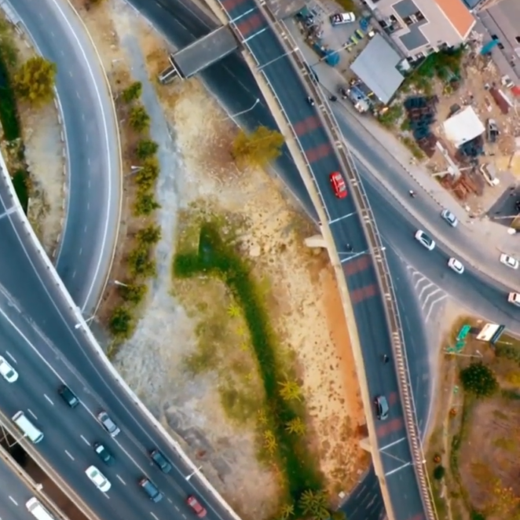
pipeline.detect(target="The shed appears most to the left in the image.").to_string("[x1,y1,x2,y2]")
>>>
[336,35,406,110]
